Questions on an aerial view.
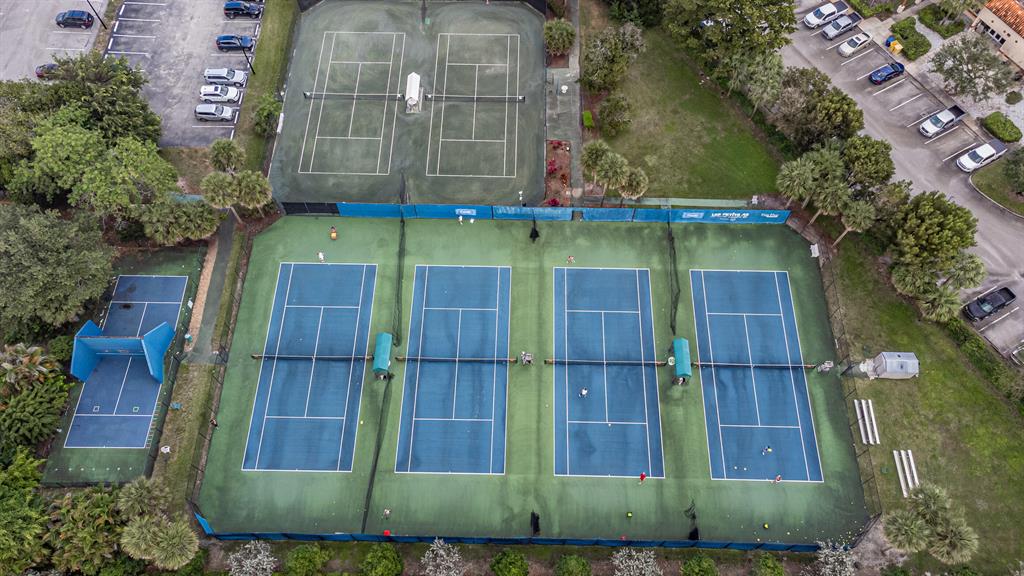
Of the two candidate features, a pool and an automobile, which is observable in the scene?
automobile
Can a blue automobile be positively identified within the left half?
Yes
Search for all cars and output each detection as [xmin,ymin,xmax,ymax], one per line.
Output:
[55,10,94,29]
[837,33,873,57]
[966,285,1016,322]
[920,105,965,137]
[867,63,904,86]
[199,85,239,103]
[34,63,67,80]
[216,35,252,52]
[193,103,234,123]
[821,13,862,41]
[959,139,1005,172]
[806,1,847,29]
[205,68,245,87]
[224,0,261,18]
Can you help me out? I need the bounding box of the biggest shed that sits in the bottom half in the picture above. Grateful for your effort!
[869,350,923,384]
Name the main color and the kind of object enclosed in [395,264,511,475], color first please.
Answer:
blue tennis court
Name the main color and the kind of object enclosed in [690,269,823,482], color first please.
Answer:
blue tennis court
